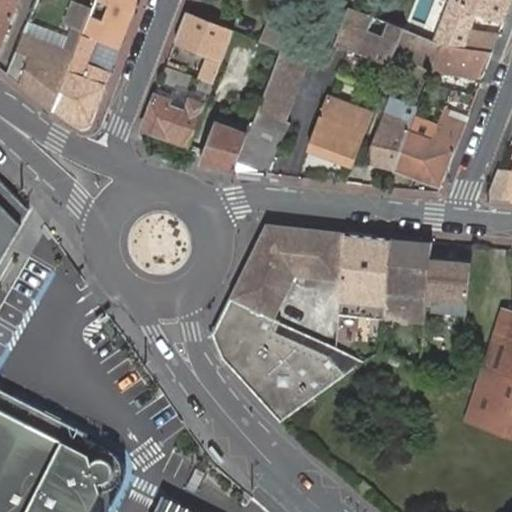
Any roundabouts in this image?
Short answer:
Yes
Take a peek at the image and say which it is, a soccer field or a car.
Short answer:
car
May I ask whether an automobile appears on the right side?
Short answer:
Yes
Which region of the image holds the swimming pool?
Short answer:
top right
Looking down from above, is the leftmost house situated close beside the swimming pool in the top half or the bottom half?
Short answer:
top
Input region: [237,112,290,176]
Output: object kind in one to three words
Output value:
shed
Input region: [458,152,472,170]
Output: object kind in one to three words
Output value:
vehicle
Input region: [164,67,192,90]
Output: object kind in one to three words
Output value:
building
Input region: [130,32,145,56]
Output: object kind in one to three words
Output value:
car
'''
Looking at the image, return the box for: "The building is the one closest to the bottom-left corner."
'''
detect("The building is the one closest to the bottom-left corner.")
[0,390,120,512]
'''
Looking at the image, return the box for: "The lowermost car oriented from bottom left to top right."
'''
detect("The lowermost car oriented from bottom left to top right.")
[153,409,174,427]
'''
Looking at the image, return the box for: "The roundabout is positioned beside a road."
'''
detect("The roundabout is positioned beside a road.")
[84,160,236,325]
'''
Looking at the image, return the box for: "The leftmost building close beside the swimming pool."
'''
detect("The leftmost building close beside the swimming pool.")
[334,8,402,60]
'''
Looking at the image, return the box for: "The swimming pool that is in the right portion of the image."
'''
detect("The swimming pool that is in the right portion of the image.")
[408,0,442,33]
